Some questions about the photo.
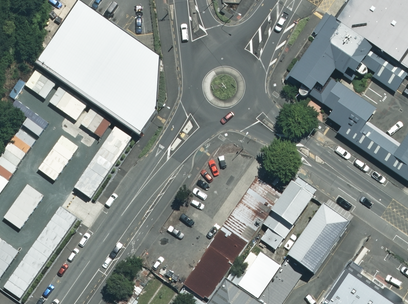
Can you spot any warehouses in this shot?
Yes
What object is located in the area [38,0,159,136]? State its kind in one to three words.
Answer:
warehouse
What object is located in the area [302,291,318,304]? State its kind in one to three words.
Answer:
vehicle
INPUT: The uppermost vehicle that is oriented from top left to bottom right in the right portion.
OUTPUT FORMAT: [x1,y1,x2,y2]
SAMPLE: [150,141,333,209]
[335,146,352,160]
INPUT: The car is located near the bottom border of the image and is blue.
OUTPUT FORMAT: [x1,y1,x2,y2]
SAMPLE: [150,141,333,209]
[42,284,56,300]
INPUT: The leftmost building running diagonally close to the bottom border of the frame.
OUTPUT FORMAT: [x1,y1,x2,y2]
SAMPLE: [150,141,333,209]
[4,208,78,299]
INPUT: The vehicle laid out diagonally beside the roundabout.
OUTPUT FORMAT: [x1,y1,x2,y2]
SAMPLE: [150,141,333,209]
[219,110,236,125]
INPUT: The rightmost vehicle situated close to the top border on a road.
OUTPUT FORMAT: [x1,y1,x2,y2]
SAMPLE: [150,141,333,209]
[274,13,289,32]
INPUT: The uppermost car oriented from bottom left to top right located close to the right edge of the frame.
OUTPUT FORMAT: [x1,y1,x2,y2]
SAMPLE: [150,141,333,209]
[387,122,404,136]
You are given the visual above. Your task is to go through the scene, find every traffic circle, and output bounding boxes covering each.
[202,66,246,110]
